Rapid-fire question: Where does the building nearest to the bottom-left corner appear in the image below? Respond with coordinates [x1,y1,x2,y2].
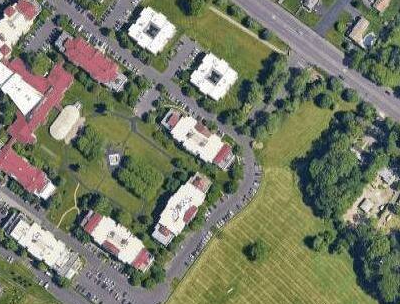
[3,213,80,281]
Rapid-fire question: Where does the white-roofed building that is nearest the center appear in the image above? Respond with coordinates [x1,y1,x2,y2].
[161,109,235,170]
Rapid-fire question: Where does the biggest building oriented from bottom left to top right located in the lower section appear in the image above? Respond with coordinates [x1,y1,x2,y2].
[152,172,212,247]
